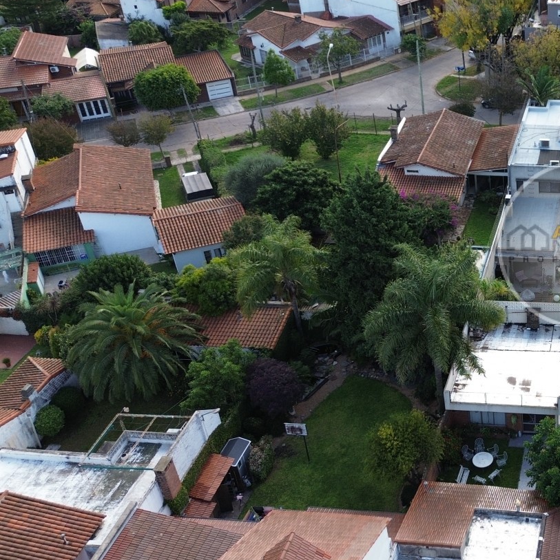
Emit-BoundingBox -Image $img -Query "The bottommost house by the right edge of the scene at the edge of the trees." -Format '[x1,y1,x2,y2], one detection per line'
[394,478,560,560]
